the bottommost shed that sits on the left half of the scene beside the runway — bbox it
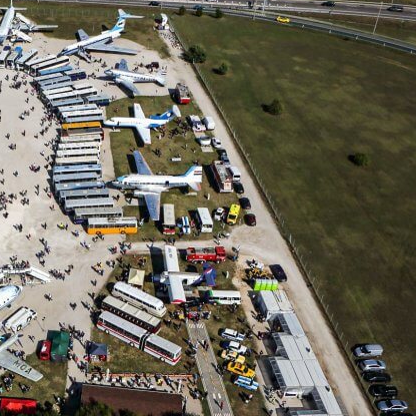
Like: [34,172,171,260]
[82,384,183,416]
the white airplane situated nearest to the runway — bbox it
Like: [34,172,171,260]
[151,244,219,302]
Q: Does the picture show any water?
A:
No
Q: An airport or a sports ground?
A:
airport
